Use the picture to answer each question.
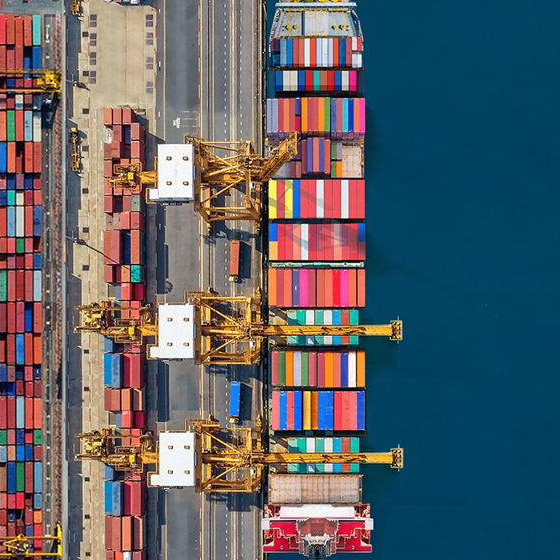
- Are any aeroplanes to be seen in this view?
No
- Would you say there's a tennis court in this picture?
No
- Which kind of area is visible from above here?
port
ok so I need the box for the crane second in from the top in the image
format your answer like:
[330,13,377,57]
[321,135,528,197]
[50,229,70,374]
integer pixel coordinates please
[105,129,298,223]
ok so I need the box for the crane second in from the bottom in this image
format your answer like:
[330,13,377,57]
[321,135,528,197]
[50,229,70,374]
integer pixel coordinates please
[73,403,403,495]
